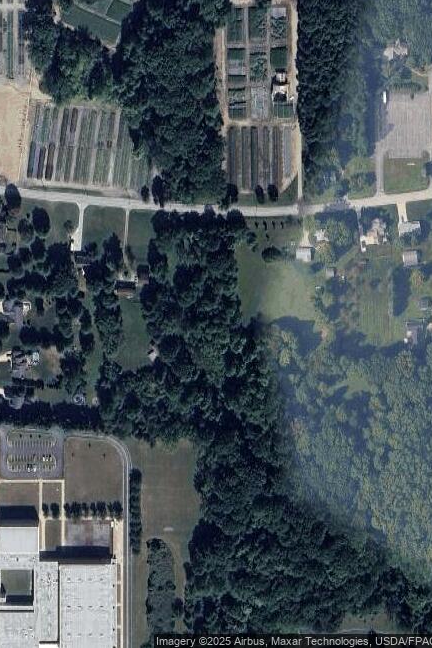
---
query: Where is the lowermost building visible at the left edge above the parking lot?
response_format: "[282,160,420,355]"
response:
[5,387,23,408]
